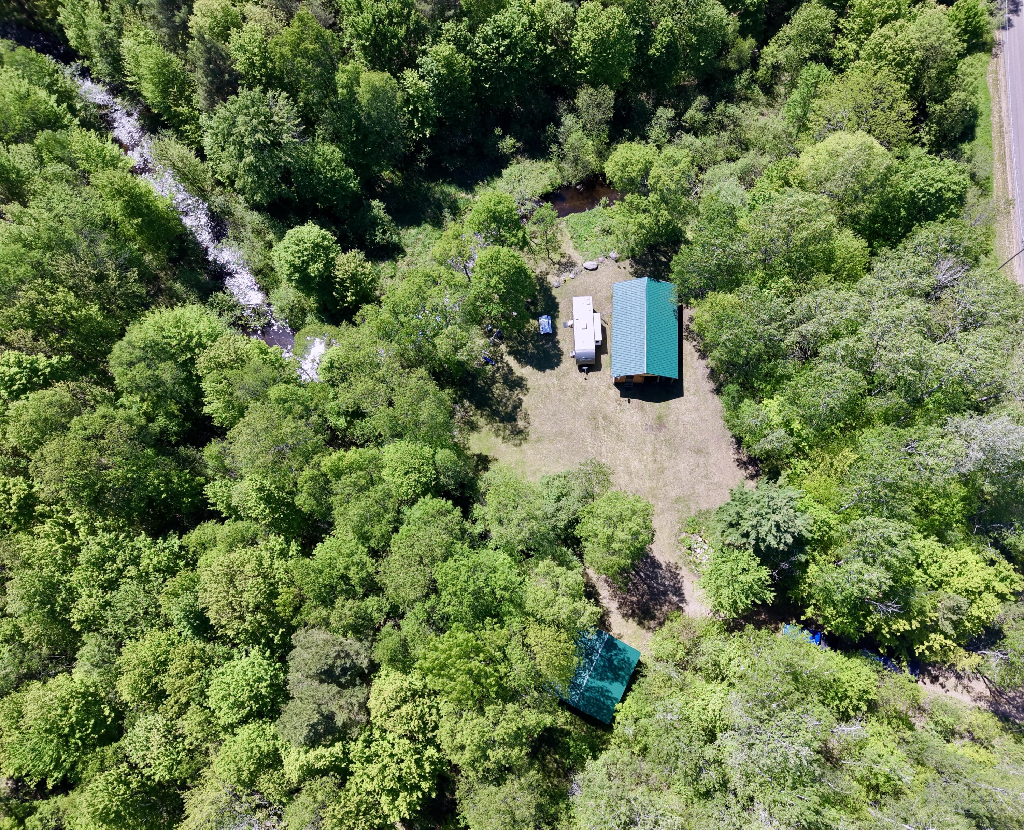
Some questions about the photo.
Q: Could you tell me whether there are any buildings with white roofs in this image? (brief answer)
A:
No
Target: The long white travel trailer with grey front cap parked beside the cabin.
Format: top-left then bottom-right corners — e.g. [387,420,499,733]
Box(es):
[572,296,602,375]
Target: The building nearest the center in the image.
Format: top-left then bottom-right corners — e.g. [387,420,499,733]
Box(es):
[611,279,678,392]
